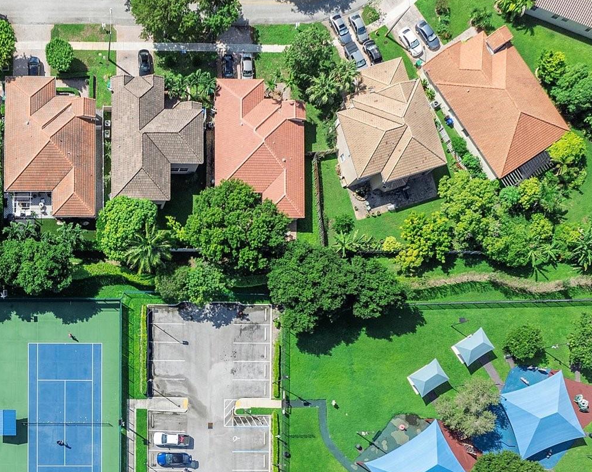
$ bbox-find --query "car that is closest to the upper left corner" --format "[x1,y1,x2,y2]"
[27,54,40,76]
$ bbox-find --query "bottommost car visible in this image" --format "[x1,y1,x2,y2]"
[158,453,195,467]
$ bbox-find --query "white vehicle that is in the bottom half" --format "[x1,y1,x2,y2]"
[152,432,191,448]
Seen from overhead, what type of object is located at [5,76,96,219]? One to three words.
house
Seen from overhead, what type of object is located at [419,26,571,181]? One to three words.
house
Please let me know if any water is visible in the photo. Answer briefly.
No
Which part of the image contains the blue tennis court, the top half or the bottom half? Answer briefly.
bottom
